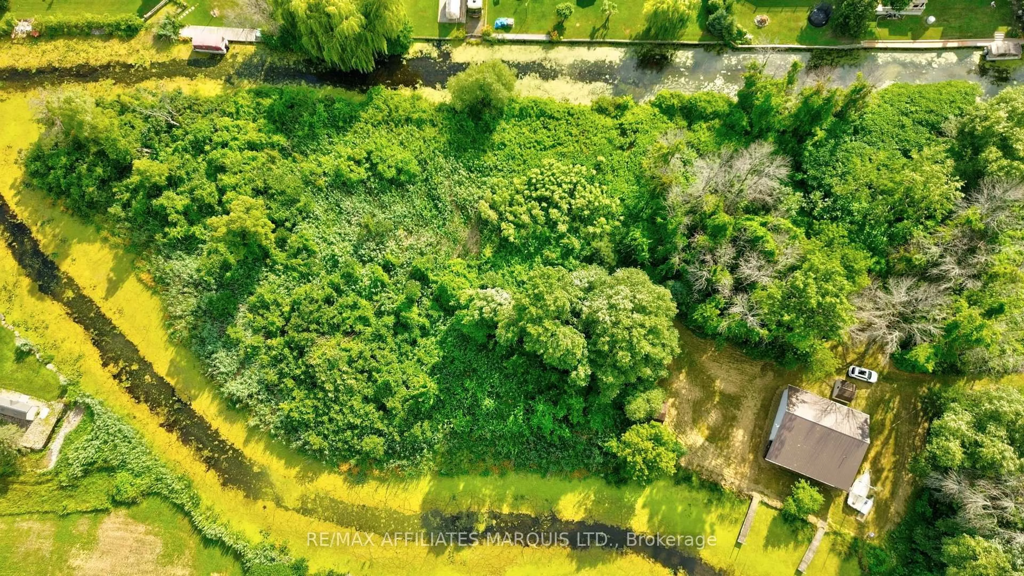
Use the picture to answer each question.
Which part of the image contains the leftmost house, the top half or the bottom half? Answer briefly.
bottom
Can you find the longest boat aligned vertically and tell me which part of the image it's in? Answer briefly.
bottom right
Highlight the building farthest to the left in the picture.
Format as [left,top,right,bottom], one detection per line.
[0,385,45,417]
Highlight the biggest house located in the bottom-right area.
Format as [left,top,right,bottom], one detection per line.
[765,383,871,493]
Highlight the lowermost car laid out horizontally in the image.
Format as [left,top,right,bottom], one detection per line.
[849,366,881,384]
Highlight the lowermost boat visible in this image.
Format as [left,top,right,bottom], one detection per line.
[847,470,870,519]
